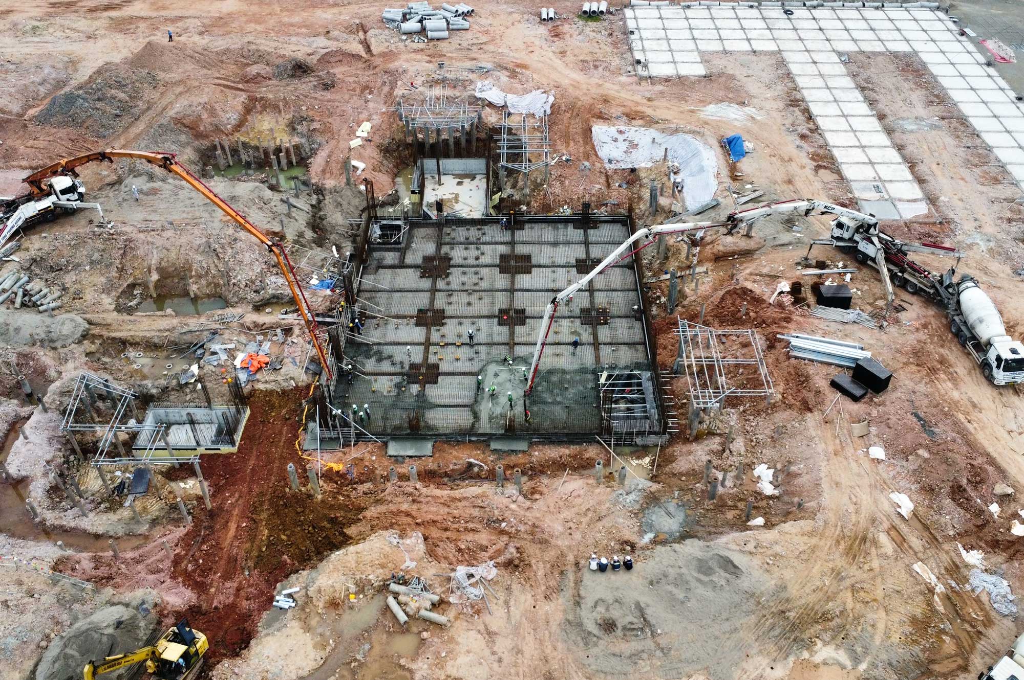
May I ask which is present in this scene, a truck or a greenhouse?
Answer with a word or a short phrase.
truck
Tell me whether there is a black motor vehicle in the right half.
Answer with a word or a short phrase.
No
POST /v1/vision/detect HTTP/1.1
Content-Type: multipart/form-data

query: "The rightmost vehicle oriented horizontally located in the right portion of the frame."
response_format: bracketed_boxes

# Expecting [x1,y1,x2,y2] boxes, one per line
[524,197,966,425]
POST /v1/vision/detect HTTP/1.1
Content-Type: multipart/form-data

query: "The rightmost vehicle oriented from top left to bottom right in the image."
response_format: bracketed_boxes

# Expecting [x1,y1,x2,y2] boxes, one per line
[948,277,1024,380]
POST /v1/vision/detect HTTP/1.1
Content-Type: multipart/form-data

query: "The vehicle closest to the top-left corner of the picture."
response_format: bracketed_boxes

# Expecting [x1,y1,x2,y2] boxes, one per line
[0,148,336,399]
